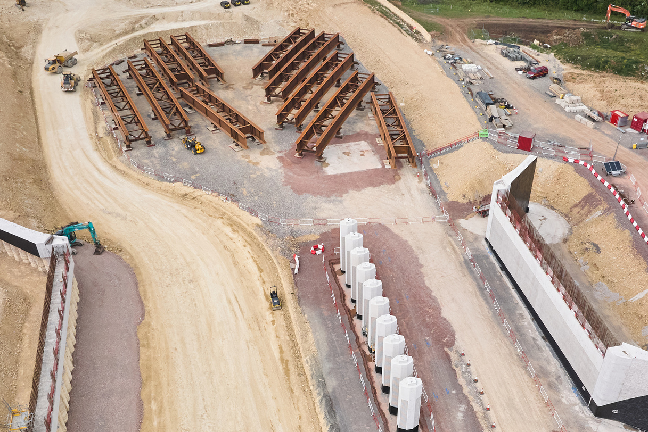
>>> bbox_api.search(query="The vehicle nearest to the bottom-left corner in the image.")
[54,219,113,253]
